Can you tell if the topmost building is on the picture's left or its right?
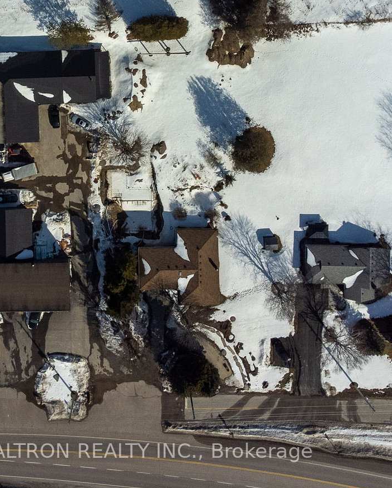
left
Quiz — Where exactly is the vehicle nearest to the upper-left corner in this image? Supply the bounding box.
[48,104,62,128]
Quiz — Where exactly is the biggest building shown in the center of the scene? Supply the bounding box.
[137,228,220,305]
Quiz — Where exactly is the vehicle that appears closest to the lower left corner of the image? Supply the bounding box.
[27,312,40,328]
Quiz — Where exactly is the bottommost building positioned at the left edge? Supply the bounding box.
[0,258,70,312]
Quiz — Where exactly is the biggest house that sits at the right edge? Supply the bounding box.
[303,243,391,302]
